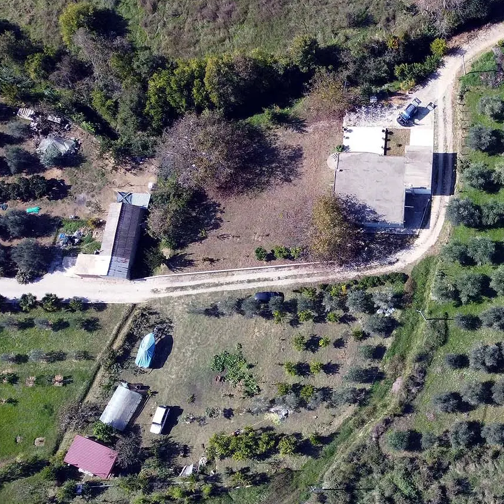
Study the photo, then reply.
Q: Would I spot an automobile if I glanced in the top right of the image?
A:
Yes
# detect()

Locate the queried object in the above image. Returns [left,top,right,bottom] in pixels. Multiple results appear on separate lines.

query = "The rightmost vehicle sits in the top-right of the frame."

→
[398,97,419,127]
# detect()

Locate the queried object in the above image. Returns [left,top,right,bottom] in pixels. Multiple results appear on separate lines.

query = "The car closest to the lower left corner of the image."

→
[150,405,171,435]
